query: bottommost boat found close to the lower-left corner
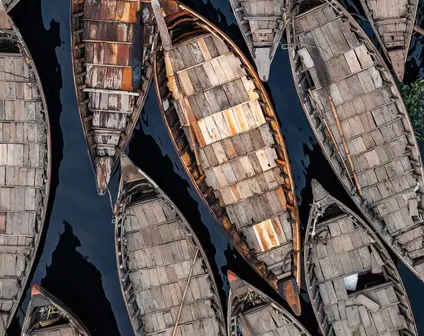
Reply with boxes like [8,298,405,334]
[20,279,90,336]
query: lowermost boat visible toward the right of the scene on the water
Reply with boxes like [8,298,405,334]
[220,265,312,336]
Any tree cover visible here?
No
